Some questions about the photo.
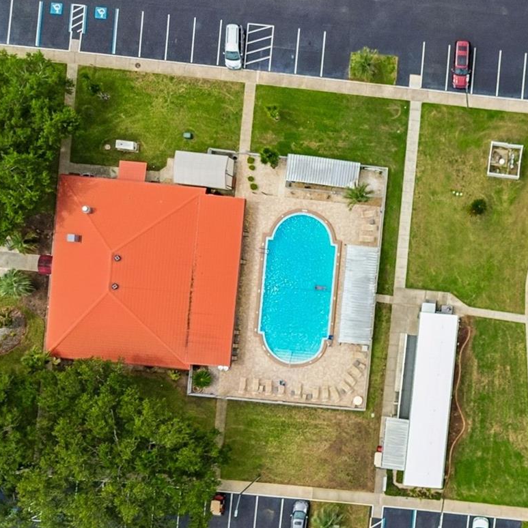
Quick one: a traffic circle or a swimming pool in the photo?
swimming pool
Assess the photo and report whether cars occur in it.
Yes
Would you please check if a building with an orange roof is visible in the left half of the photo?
Yes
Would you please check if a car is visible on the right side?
Yes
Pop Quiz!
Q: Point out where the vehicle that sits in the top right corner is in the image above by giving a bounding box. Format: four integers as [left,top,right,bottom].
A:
[450,42,470,90]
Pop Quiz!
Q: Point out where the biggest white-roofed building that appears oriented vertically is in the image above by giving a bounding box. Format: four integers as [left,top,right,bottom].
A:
[382,301,459,489]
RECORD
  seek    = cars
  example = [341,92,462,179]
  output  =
[473,515,489,528]
[290,499,310,528]
[222,23,243,69]
[450,42,470,90]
